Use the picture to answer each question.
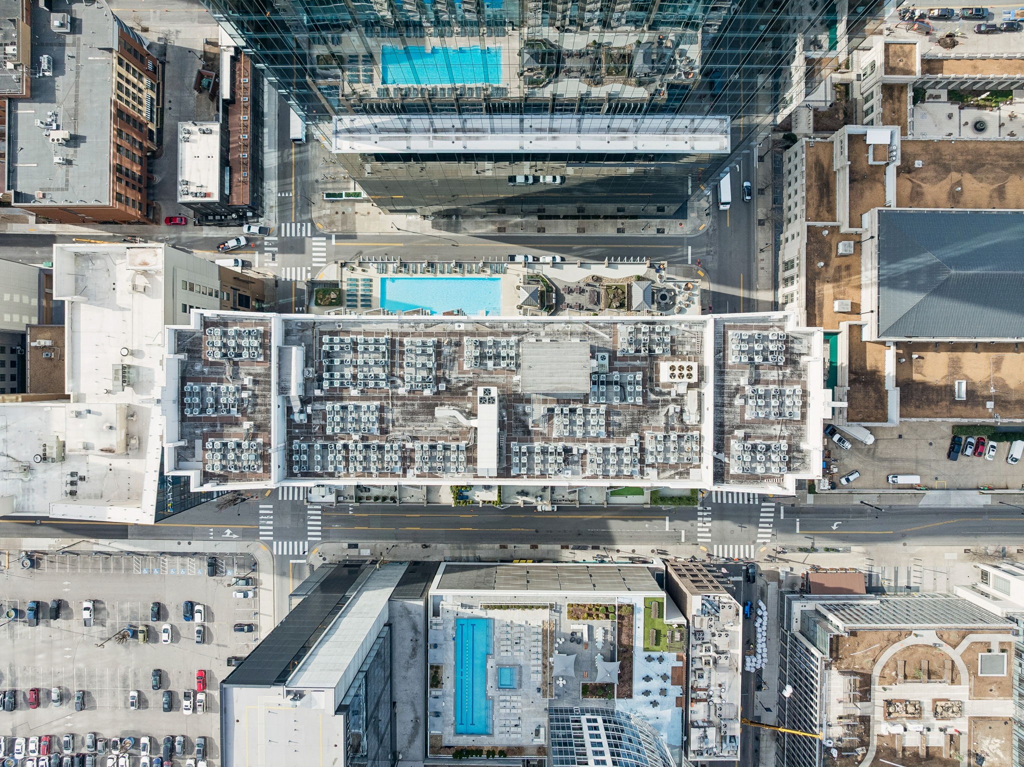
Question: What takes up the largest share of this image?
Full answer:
The bulk of the photo consists of buildings.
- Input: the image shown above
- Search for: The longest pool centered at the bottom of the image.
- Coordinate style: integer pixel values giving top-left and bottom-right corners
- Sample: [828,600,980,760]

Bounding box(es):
[455,617,494,736]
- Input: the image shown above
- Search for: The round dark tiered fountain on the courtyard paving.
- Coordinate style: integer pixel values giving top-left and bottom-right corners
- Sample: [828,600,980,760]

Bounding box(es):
[969,116,990,136]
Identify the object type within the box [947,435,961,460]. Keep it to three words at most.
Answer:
vehicle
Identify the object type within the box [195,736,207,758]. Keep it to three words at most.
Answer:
vehicle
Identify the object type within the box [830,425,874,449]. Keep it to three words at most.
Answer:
truck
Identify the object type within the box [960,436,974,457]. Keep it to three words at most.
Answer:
car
